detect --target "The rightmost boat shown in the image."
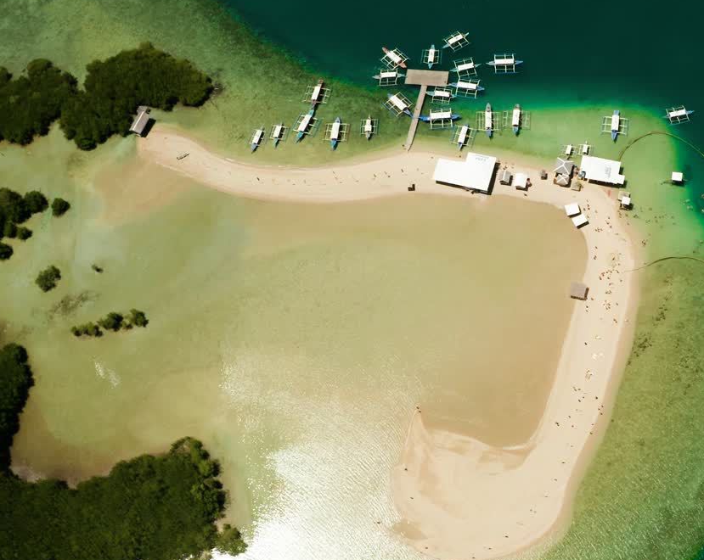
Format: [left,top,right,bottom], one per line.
[663,104,693,127]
